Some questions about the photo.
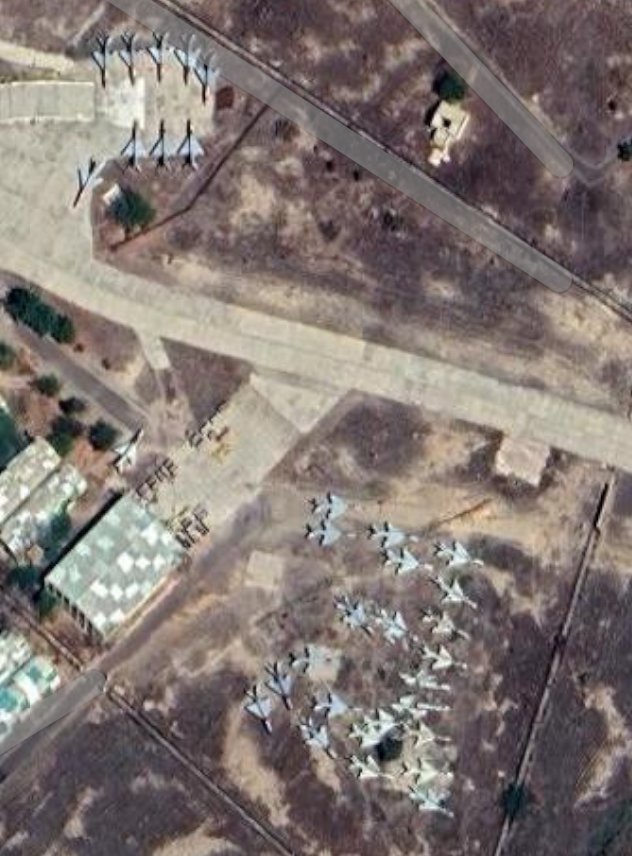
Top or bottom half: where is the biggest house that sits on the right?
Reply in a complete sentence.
It is in the top half that the biggest house that sits on the right appears.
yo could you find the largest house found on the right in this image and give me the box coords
[431,100,467,150]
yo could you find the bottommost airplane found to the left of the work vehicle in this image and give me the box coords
[110,429,143,470]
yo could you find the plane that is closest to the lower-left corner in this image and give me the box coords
[247,689,273,735]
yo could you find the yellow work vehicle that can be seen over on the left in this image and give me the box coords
[207,443,228,461]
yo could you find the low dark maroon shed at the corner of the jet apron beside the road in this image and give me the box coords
[216,87,234,110]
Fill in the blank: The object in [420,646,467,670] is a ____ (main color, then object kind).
white airplane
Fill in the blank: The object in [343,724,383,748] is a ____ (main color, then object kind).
white airplane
